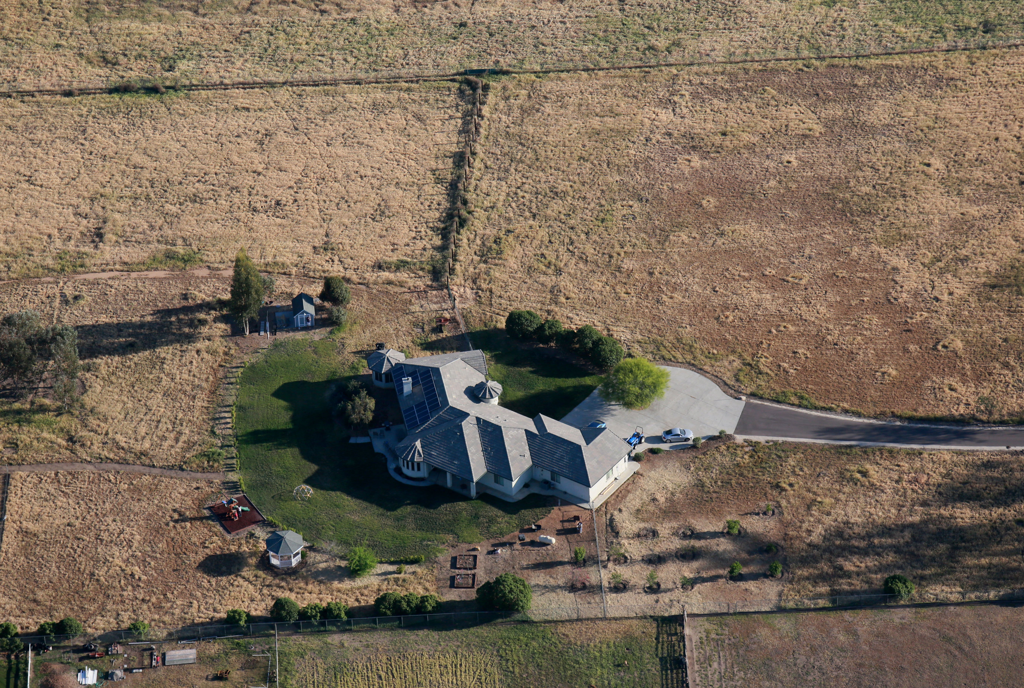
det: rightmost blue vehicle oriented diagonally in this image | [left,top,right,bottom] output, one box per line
[626,424,645,454]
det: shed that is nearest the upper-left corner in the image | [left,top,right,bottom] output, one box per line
[292,292,315,327]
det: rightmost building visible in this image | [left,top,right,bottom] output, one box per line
[367,348,632,501]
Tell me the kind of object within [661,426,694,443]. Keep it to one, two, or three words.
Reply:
car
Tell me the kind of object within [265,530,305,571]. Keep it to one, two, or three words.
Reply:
gazebo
